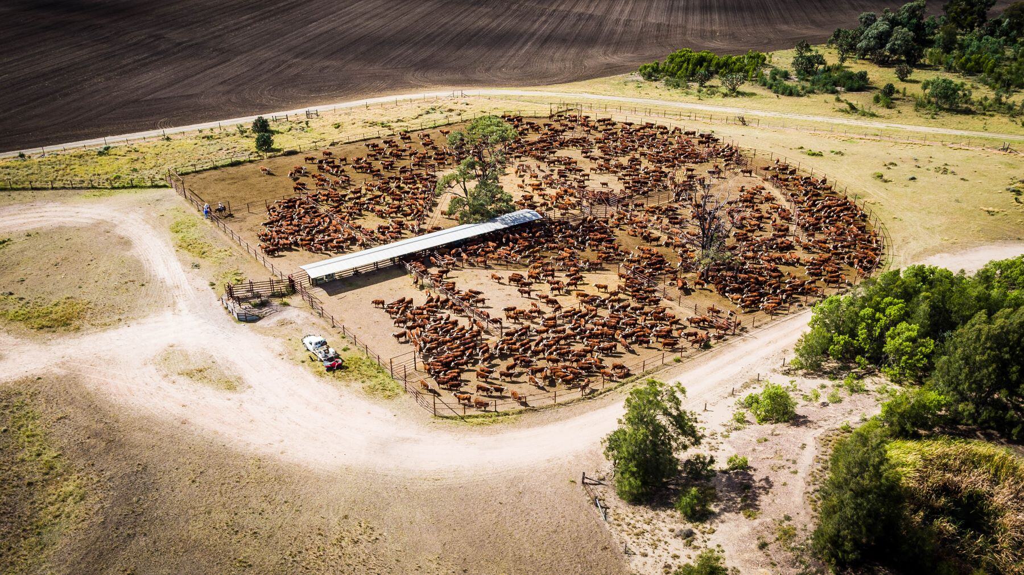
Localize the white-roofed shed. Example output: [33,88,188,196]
[302,208,542,293]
